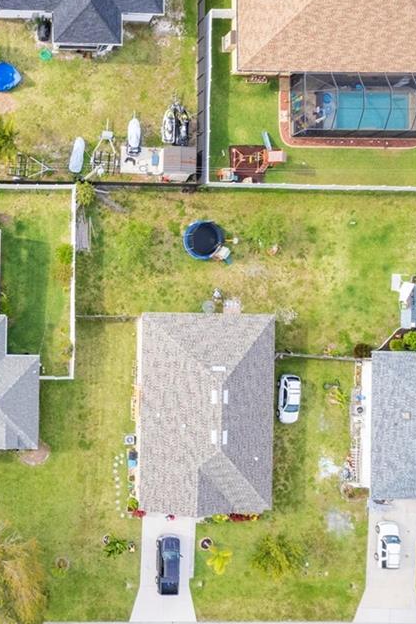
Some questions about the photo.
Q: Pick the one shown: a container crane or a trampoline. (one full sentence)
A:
The image shows a trampoline.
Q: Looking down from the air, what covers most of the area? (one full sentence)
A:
The bulk of the photo consists of grass.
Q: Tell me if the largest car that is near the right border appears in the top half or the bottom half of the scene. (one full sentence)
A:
It is in the bottom half that the largest car that is near the right border appears.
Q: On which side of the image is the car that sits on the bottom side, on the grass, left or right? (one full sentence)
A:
The car that sits on the bottom side, on the grass sits on the right side.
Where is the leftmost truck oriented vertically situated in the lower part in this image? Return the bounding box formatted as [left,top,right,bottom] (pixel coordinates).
[156,533,183,596]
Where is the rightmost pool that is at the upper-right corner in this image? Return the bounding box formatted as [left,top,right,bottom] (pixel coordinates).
[334,88,413,130]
